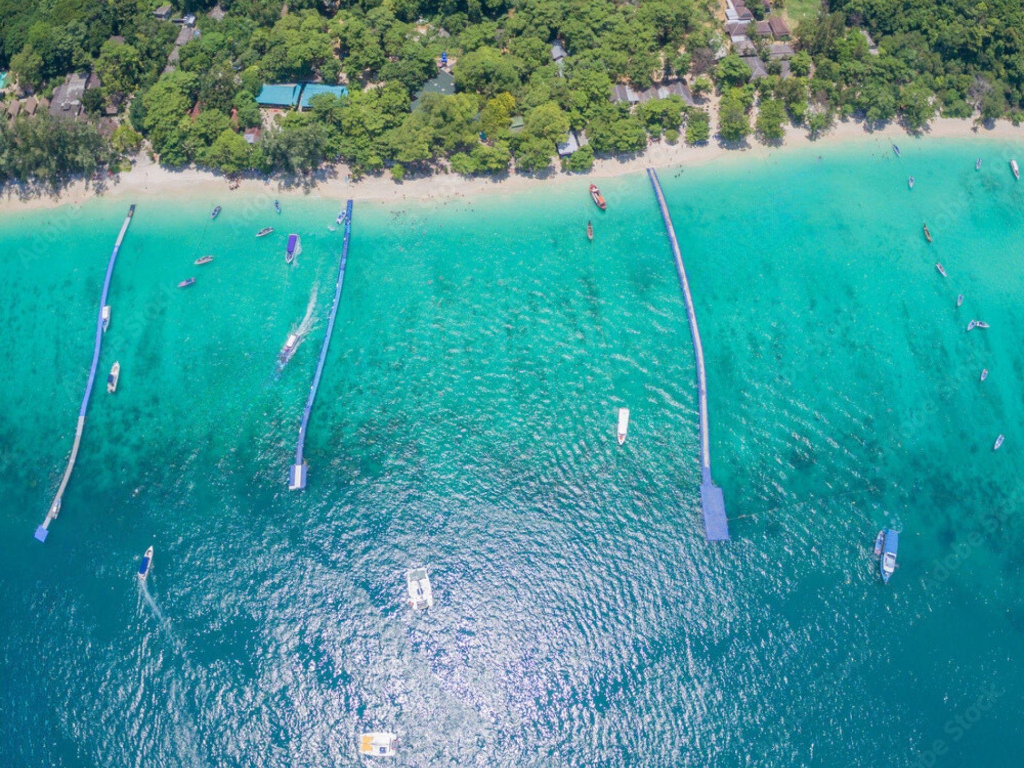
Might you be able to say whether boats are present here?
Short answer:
Yes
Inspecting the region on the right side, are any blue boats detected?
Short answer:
Yes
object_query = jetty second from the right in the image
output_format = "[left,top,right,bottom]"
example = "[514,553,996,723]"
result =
[290,200,353,489]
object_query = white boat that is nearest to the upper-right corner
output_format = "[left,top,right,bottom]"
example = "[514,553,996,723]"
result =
[1008,157,1020,181]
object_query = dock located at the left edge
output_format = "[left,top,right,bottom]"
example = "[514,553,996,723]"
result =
[35,205,136,542]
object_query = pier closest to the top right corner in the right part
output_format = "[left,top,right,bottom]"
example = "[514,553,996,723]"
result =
[648,168,728,541]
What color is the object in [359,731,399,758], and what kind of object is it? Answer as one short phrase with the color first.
white boat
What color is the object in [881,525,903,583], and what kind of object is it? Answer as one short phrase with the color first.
blue boat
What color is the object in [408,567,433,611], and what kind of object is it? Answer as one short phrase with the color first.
white boat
